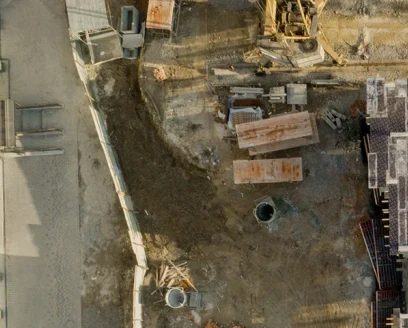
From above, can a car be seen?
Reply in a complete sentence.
No, no car is visible in the view.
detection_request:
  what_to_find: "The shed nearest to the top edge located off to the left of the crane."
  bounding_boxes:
[69,0,124,41]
